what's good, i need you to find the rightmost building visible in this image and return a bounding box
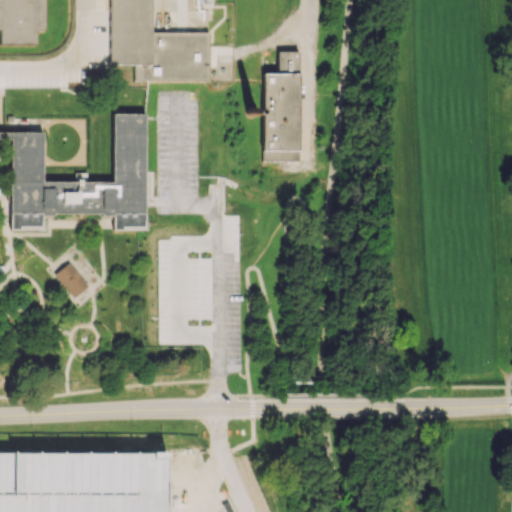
[263,52,301,163]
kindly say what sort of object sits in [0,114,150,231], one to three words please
building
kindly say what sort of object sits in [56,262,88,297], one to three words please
building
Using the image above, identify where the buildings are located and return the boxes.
[0,114,150,231]
[56,262,88,297]
[110,0,210,82]
[0,450,172,512]
[263,52,301,163]
[0,0,48,46]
